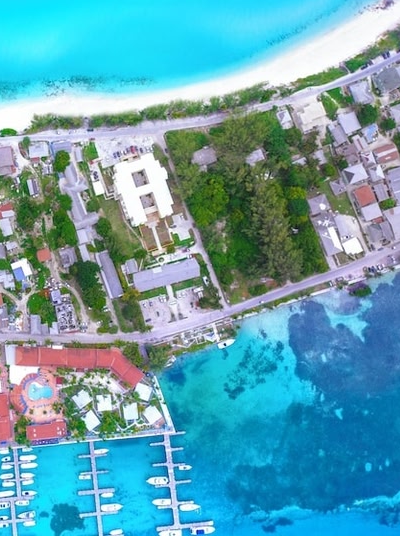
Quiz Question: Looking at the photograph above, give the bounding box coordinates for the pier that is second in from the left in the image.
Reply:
[78,440,118,536]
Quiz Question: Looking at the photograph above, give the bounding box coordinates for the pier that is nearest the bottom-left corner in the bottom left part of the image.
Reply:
[0,446,35,536]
